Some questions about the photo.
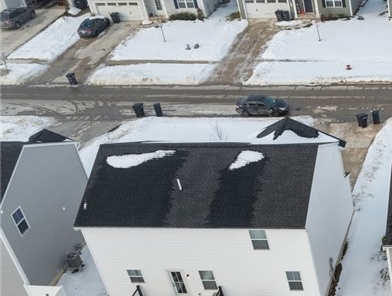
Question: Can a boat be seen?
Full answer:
No, no boat can be seen from above.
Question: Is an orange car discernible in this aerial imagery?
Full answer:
No, the scene contains no orange car.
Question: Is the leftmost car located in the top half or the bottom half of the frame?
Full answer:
You can find the leftmost car in the top half.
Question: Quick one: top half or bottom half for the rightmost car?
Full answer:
You can find the rightmost car in the top half.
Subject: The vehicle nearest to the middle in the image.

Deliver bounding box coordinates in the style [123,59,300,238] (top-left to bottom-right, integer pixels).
[234,91,296,115]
